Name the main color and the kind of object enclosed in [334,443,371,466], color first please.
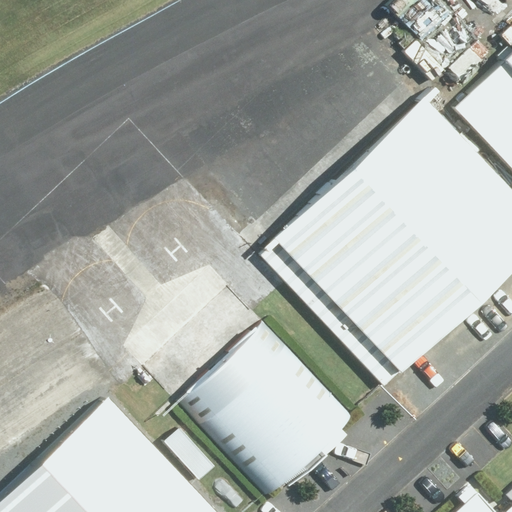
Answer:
white car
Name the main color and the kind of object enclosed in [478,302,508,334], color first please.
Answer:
gray car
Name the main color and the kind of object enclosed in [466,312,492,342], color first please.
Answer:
white car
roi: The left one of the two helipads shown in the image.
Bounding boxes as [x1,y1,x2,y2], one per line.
[30,226,151,387]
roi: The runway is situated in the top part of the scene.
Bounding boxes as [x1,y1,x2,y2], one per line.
[0,0,288,156]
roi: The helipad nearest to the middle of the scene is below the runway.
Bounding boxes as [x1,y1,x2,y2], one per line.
[98,180,286,318]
